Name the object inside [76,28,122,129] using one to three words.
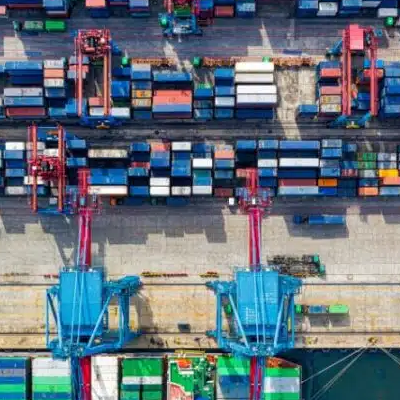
container crane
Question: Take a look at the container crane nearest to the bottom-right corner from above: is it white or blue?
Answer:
blue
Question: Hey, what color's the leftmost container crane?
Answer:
red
